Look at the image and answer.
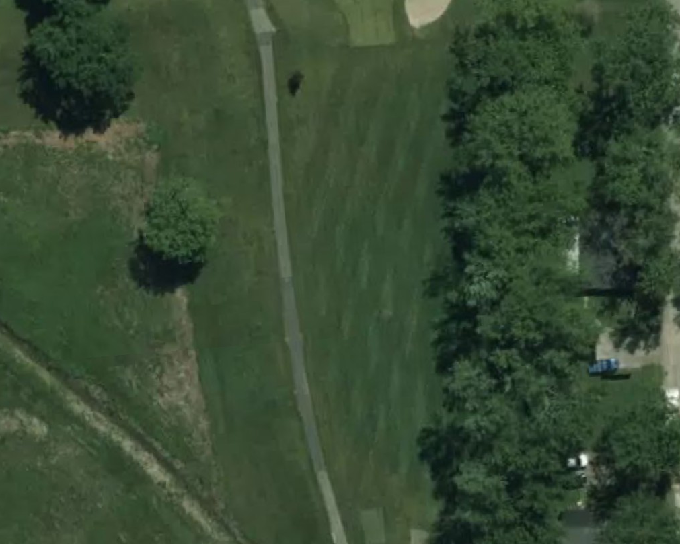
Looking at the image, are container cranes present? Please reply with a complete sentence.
No, there is no container crane in the image.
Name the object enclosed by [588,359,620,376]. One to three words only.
vehicle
